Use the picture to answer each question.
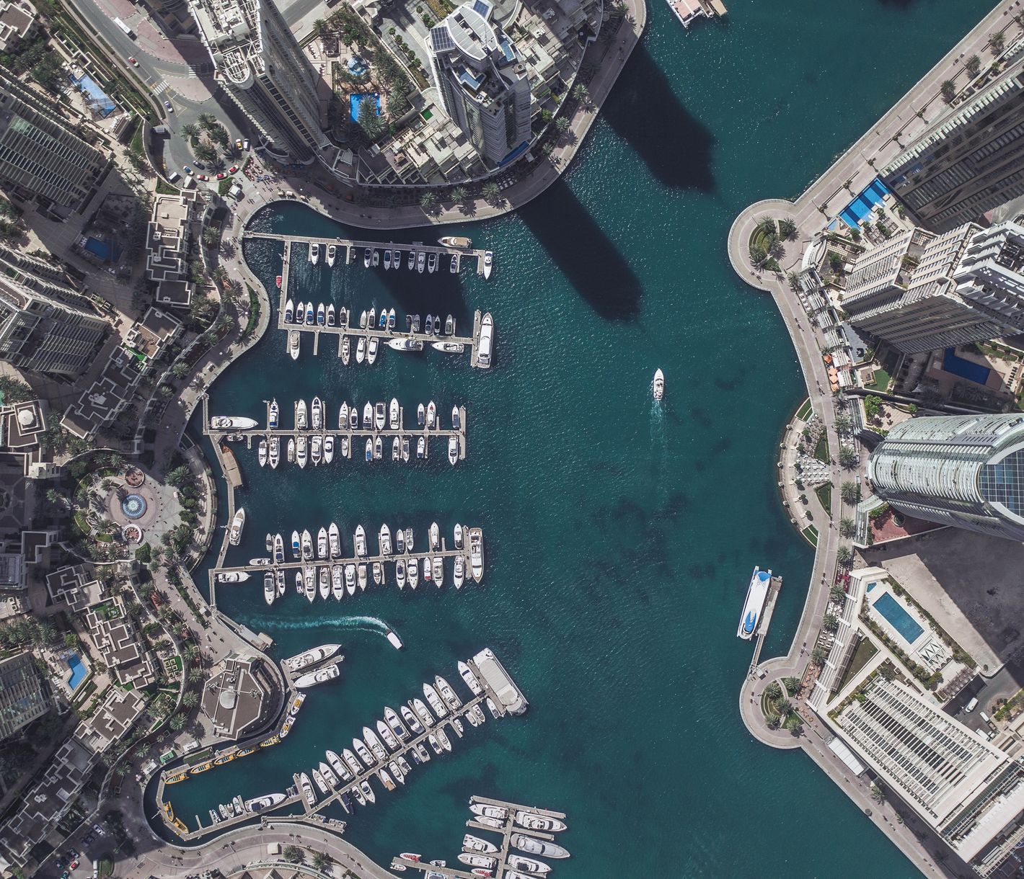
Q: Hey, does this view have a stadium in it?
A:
No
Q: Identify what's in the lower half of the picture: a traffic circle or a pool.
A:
pool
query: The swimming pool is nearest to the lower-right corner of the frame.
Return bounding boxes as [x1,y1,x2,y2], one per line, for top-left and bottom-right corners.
[872,591,925,646]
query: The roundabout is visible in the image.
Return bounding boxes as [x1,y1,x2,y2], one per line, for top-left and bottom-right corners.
[188,120,232,165]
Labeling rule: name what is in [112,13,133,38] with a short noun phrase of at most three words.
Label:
bus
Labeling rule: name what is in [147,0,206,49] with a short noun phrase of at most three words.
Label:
building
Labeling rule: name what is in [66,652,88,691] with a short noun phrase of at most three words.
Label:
swimming pool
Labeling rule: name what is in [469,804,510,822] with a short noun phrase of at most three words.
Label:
boat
